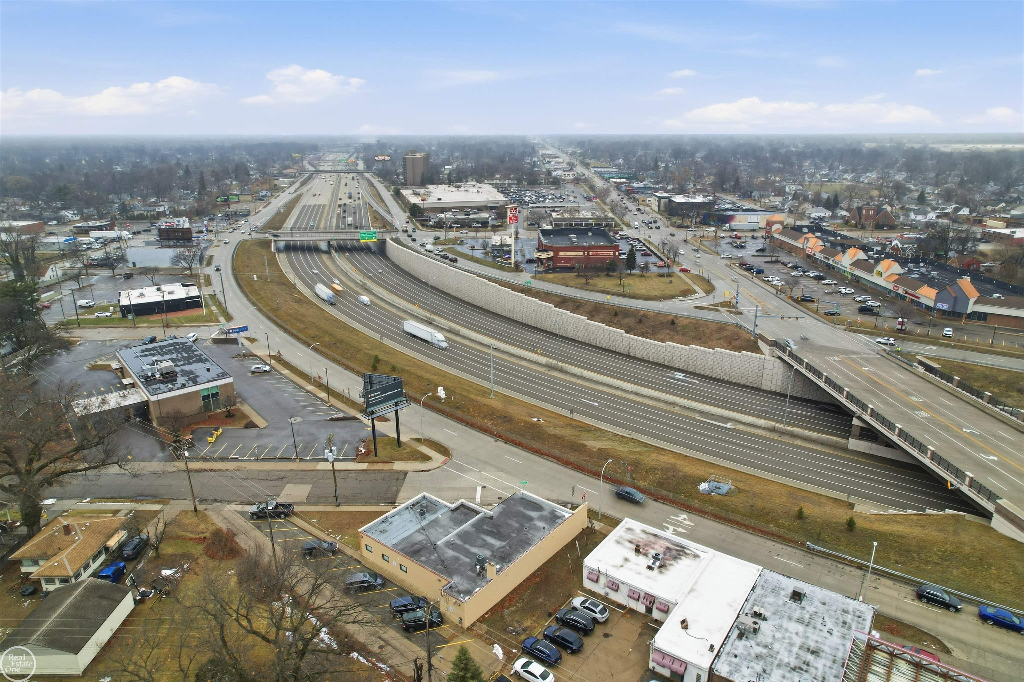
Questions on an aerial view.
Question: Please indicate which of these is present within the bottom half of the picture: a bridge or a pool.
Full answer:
There is a bridge within the bottom half of the picture.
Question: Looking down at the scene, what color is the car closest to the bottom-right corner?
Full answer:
The color of the car closest to the bottom-right corner is blue.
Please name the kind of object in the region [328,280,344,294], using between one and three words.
vehicle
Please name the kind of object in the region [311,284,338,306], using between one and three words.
truck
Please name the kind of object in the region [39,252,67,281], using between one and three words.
house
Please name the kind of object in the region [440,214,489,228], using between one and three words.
building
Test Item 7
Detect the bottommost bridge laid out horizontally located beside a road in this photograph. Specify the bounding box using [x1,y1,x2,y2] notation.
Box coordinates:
[270,226,393,260]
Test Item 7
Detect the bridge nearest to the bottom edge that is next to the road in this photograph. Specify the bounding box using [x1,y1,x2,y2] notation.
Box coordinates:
[758,332,1024,559]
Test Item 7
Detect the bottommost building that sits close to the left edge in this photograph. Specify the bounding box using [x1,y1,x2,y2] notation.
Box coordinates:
[0,575,136,675]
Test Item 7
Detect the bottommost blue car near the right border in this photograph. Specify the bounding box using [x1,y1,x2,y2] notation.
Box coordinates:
[976,606,1024,637]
